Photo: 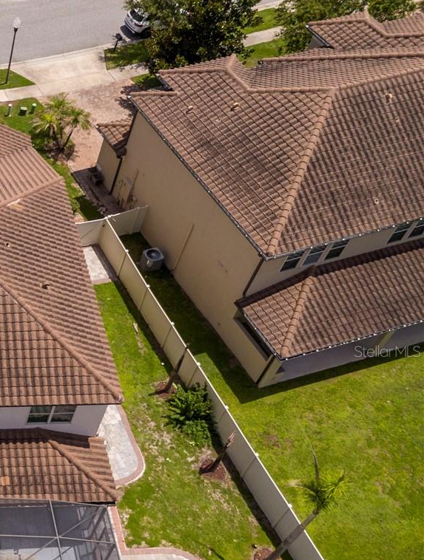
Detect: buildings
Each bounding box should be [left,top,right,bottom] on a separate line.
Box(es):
[0,136,125,532]
[87,6,424,391]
